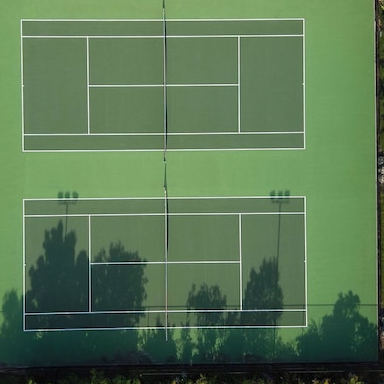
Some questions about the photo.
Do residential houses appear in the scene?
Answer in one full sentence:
No, this view has no residential house in it.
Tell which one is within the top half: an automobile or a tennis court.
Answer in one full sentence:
There is a tennis court within the top half.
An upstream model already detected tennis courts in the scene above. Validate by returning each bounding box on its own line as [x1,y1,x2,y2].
[23,196,307,330]
[22,18,306,151]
